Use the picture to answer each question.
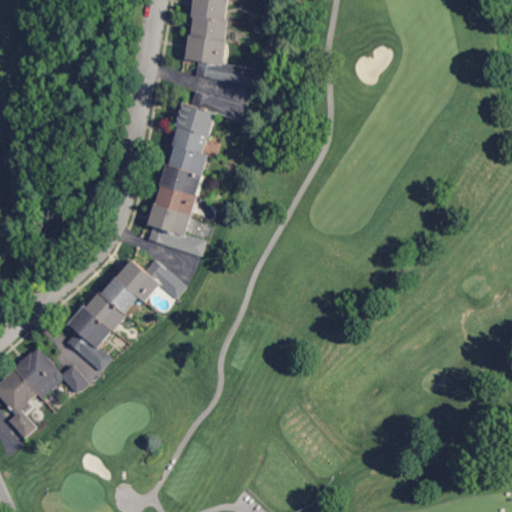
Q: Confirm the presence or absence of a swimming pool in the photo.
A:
Yes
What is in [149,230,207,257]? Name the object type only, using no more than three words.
building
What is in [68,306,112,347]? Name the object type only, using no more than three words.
house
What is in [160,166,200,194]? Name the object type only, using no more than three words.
house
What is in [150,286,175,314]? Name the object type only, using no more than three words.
swimming pool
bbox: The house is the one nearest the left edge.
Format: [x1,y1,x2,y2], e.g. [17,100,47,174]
[0,372,38,437]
